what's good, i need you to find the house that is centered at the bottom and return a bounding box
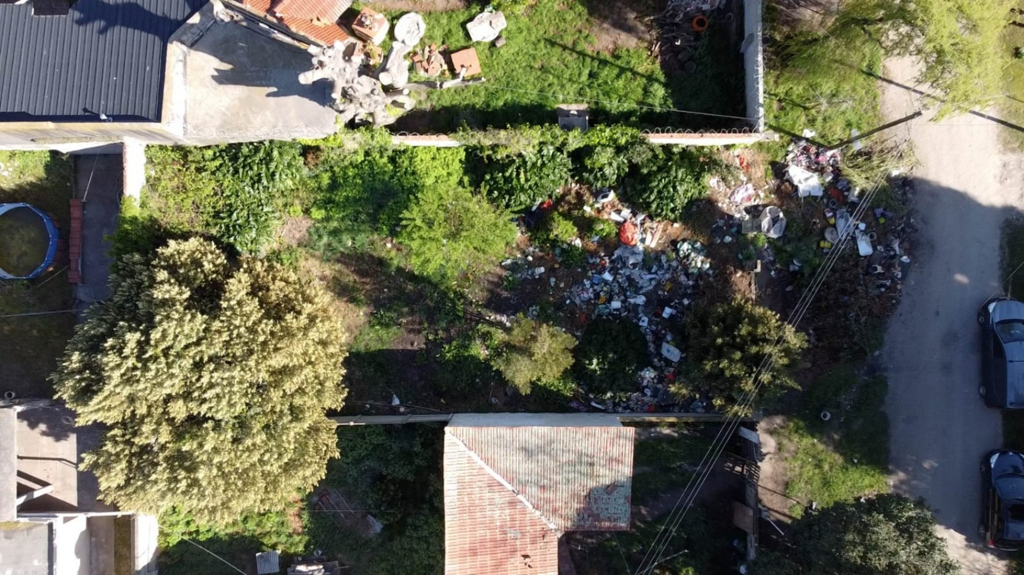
[444,414,635,575]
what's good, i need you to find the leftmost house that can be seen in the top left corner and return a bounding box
[0,0,235,150]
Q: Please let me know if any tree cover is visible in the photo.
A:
Yes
